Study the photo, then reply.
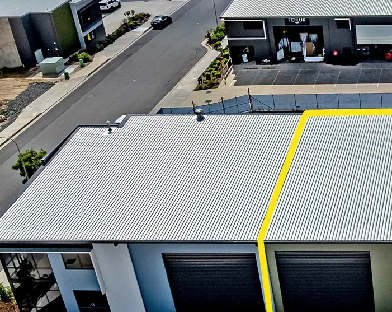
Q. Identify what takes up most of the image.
buildings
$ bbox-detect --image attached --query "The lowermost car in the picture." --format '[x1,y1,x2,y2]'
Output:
[152,12,179,26]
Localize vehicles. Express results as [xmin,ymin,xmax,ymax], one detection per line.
[101,0,126,12]
[152,12,179,26]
